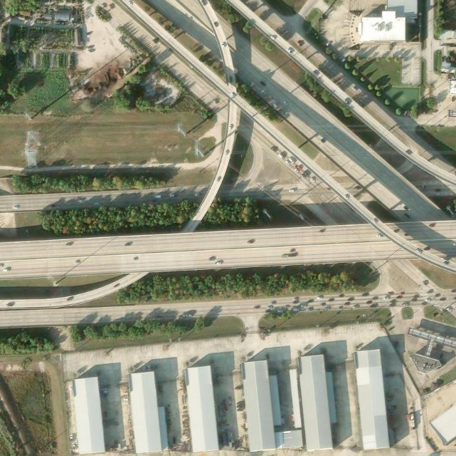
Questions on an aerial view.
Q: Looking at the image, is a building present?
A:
Yes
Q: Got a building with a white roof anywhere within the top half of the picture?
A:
Yes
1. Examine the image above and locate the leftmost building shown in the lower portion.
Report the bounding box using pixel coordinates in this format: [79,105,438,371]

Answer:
[75,377,106,455]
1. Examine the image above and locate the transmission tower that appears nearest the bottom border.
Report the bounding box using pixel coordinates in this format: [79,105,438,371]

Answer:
[20,153,37,172]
